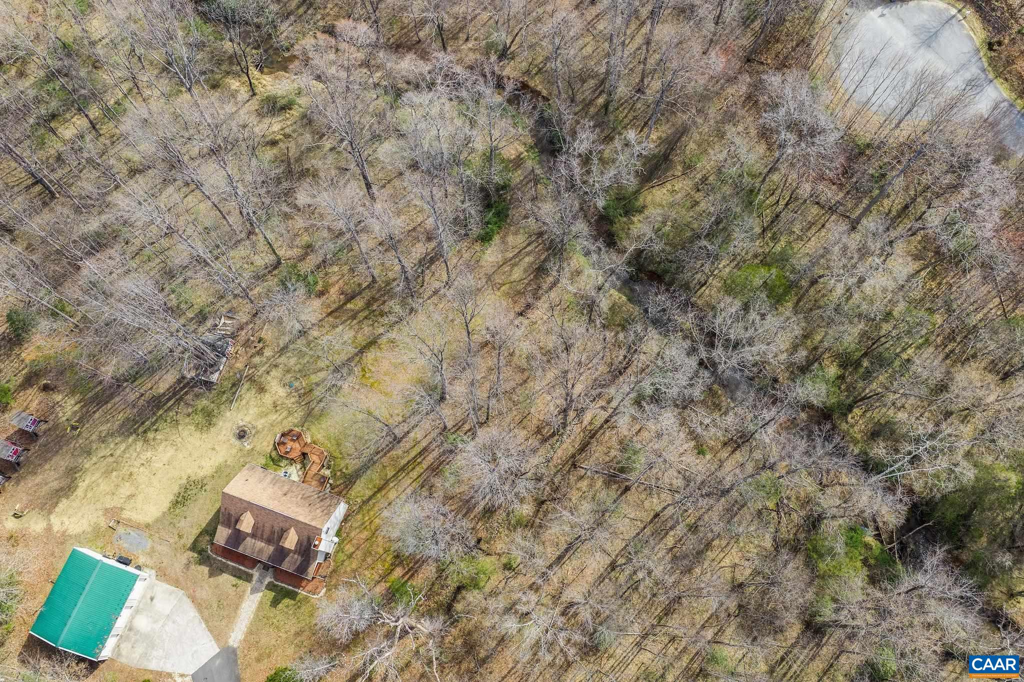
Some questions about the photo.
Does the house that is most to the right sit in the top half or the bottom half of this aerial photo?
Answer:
bottom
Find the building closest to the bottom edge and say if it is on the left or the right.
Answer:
left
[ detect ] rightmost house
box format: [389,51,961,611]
[213,463,348,584]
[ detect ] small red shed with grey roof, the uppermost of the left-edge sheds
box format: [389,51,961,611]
[1,407,43,438]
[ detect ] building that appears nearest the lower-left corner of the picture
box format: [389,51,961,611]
[26,547,148,663]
